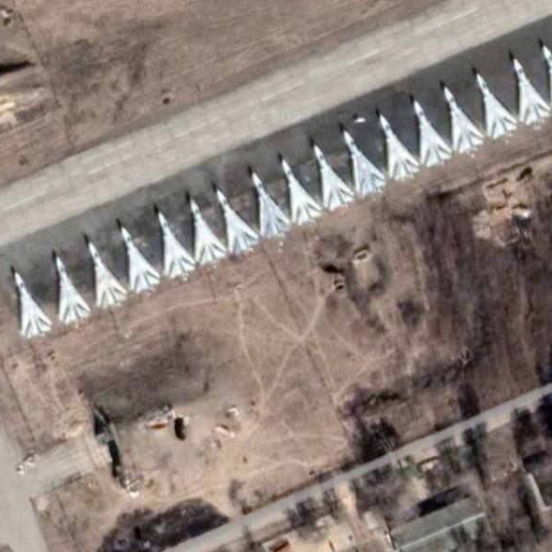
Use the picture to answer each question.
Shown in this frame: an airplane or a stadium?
airplane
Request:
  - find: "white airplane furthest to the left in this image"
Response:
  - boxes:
[14,270,50,337]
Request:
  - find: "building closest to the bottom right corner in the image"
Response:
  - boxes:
[391,500,482,552]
